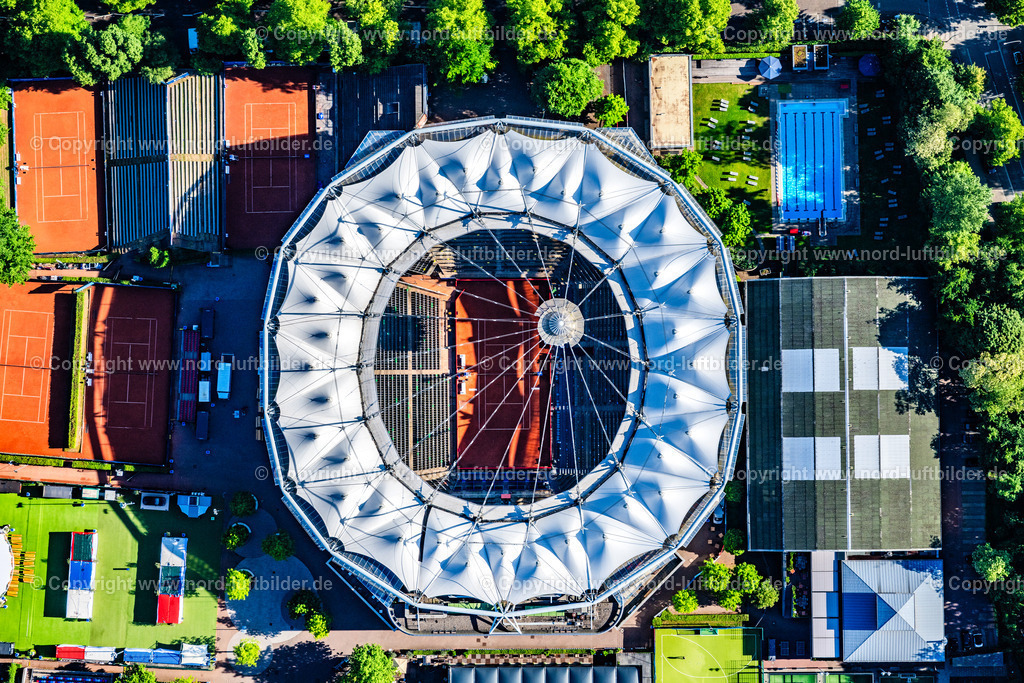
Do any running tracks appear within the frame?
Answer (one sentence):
No, I can't see a single running track in this photo.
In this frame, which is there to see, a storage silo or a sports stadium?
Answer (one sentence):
This aerial view contains a sports stadium.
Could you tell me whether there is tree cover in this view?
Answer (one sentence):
Yes, the picture does contain tree cover.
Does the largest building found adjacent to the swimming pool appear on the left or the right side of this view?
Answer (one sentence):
The largest building found adjacent to the swimming pool appears in the right half of the scene.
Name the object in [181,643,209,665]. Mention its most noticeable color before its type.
white tent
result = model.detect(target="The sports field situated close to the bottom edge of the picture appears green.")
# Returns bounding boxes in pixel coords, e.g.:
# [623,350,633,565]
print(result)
[654,628,762,683]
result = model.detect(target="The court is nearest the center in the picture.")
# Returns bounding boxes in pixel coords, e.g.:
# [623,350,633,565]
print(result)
[447,277,556,472]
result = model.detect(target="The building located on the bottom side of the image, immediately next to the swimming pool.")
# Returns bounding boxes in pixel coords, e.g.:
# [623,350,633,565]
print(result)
[745,276,943,552]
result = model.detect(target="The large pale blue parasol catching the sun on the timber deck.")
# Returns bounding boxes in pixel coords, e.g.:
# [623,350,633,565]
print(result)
[758,56,781,79]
